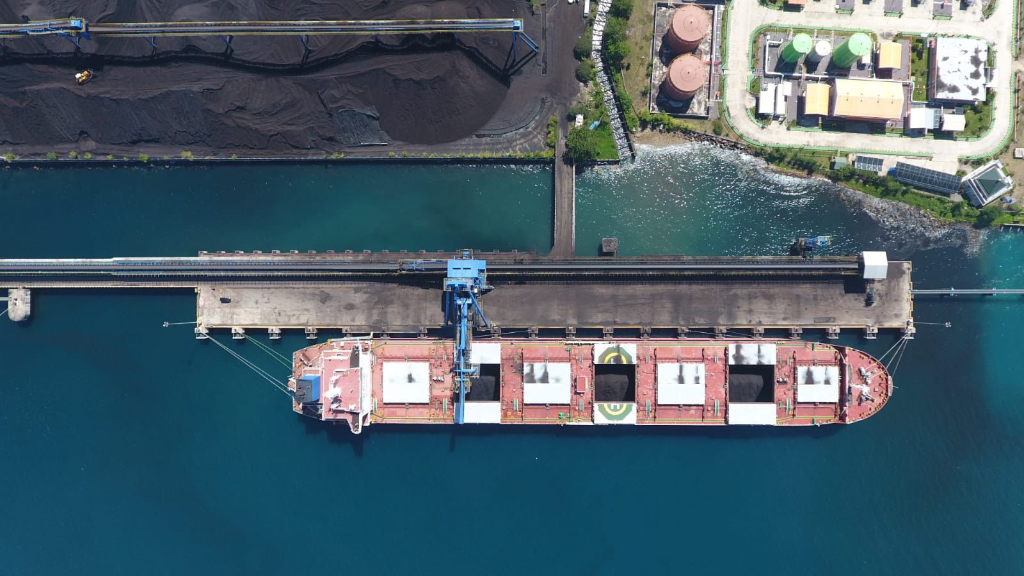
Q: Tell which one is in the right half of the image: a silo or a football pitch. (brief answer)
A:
silo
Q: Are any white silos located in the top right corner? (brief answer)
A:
Yes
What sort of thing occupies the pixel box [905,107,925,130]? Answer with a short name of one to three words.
building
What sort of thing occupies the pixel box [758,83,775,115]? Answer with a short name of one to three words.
shed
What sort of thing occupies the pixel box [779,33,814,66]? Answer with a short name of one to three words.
silo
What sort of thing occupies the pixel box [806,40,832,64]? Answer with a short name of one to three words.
silo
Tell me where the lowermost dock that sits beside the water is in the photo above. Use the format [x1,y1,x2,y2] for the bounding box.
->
[197,248,912,339]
